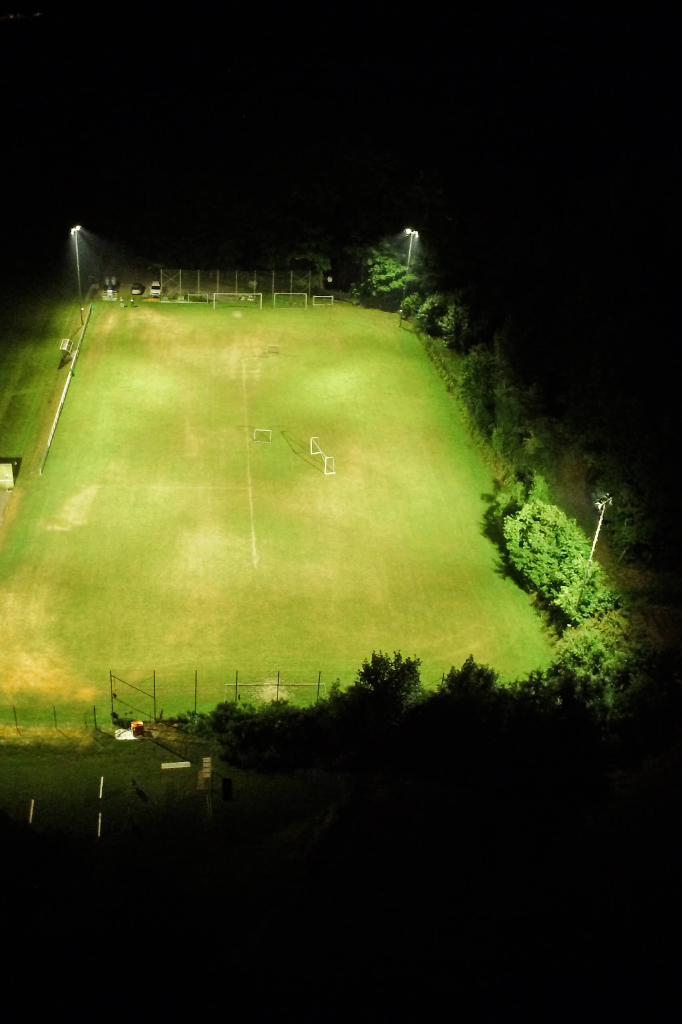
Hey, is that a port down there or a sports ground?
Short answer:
sports ground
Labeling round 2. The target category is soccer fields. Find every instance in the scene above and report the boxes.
[0,298,555,747]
